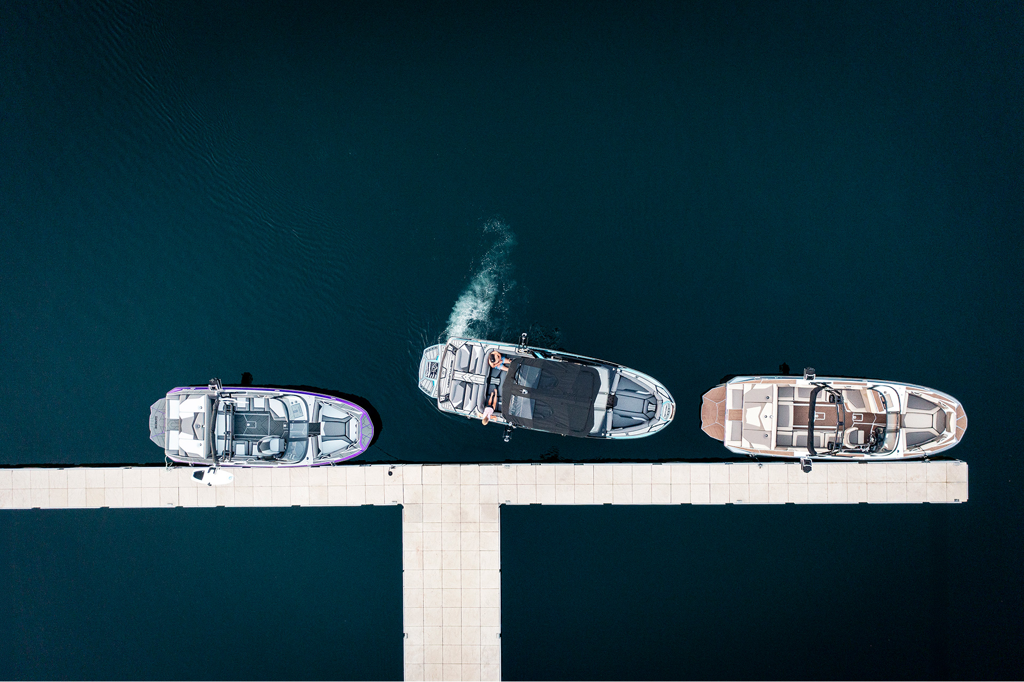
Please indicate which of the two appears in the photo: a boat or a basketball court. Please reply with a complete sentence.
I can see a boat in this picture.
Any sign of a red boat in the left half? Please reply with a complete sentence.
No, there's no red boat to be seen in the left half.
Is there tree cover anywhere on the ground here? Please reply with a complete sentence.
No, there is no tree cover in the image.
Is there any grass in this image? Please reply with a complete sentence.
No, no grass is visible.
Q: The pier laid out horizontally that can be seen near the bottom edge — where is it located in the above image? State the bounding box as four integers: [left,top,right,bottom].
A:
[0,461,968,682]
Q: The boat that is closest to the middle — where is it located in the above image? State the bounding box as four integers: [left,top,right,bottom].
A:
[418,333,676,442]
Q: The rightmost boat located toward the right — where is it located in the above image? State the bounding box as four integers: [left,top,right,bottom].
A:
[700,367,968,473]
